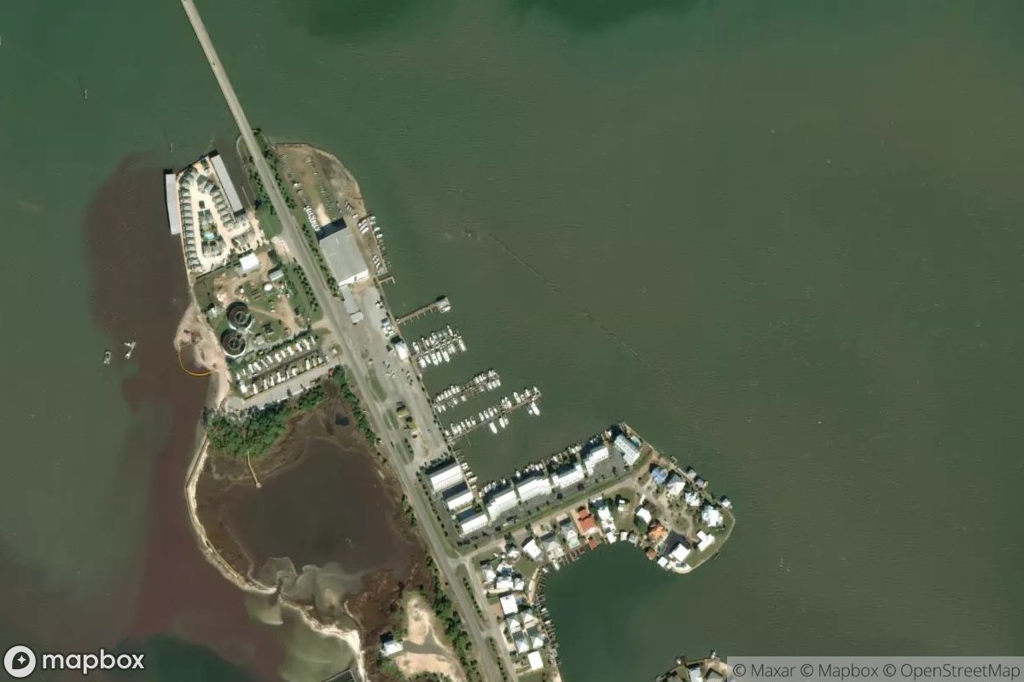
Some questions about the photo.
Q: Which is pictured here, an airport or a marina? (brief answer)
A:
marina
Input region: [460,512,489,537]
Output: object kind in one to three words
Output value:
house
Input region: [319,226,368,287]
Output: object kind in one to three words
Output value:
building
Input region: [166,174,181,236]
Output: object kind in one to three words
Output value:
building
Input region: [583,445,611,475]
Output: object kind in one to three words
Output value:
house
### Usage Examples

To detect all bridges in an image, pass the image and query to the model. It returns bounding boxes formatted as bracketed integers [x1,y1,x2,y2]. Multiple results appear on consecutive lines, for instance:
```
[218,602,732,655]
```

[181,0,272,182]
